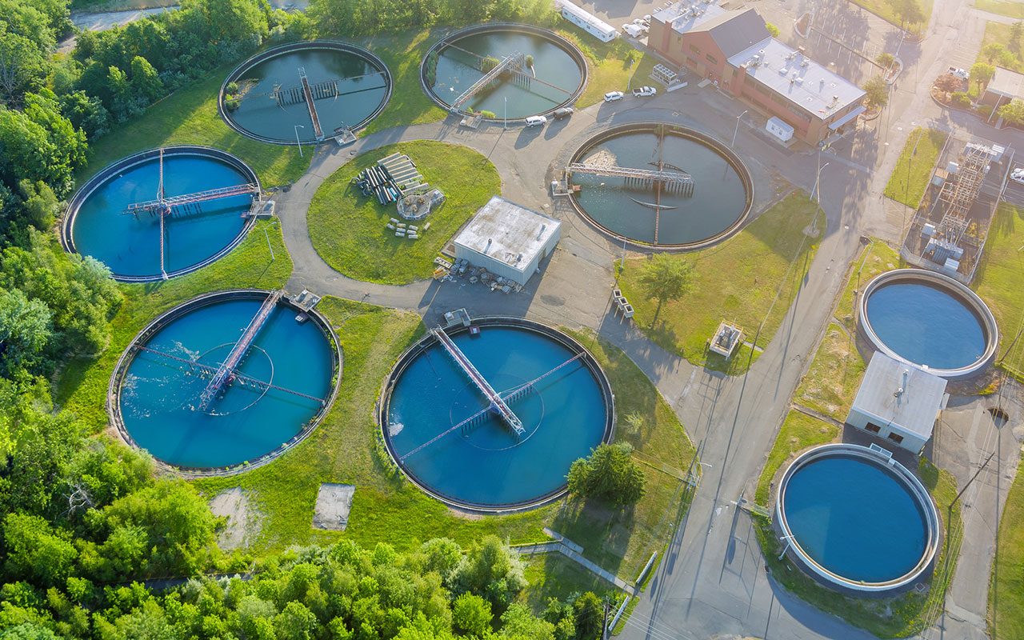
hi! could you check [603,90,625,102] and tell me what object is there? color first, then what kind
white vehicle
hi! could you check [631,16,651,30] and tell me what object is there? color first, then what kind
white vehicle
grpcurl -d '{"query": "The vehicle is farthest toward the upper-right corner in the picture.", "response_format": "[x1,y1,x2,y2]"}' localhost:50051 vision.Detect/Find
[947,64,973,81]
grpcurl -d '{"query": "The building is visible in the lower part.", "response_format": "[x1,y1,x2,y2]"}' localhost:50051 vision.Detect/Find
[844,349,950,455]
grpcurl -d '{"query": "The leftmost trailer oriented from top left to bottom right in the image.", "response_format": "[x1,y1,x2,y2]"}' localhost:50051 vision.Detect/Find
[562,0,620,44]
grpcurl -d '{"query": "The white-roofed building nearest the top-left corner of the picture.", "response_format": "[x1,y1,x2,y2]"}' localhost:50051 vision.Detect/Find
[453,194,562,287]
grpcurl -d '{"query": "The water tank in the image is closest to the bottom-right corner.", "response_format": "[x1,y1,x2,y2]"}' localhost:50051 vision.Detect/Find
[772,439,942,596]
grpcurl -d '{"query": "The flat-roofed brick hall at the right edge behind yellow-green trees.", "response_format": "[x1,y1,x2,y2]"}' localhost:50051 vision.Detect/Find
[978,69,1024,133]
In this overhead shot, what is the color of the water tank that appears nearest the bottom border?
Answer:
blue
